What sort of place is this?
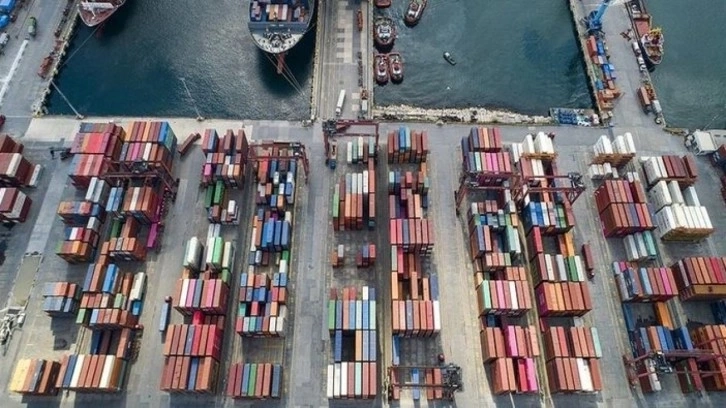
port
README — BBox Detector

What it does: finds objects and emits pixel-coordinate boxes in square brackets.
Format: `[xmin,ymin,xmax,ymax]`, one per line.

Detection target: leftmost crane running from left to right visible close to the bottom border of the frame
[386,362,470,400]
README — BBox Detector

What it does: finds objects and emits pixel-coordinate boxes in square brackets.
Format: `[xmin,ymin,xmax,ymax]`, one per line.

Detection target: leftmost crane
[94,158,180,201]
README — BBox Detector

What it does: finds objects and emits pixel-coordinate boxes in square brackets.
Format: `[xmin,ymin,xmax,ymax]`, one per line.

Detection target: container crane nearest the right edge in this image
[622,348,726,387]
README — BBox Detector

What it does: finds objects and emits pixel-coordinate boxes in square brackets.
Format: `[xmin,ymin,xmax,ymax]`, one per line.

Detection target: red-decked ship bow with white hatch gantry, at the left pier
[77,0,139,31]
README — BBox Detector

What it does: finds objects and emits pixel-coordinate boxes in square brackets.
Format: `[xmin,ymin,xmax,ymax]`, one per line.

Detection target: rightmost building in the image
[691,123,726,152]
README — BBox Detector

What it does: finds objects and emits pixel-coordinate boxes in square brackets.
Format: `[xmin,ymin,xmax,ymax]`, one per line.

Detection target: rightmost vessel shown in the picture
[624,0,669,71]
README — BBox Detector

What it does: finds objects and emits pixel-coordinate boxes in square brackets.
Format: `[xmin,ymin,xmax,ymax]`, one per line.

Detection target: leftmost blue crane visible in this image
[578,0,612,37]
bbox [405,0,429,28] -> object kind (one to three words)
boat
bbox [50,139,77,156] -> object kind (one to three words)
work vehicle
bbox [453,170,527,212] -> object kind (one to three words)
container crane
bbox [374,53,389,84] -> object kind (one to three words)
boat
